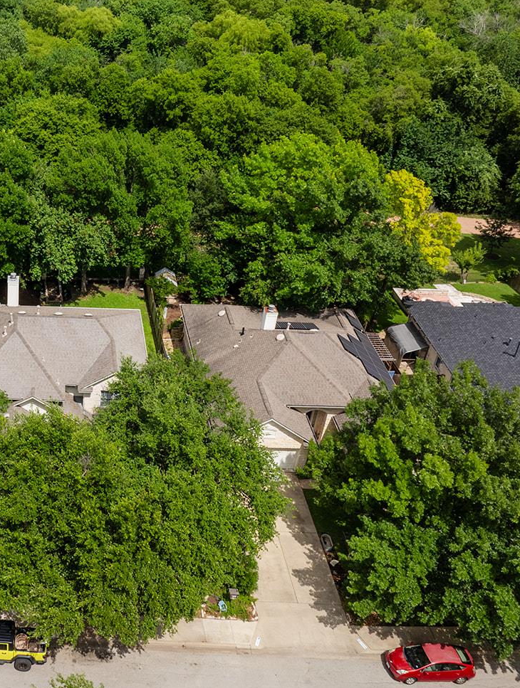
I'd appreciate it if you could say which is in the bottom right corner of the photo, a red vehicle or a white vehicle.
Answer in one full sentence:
It is a red vehicle that can be seen in the bottom right corner of the photo.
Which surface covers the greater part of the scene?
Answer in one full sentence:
For the most part, this view shows trees.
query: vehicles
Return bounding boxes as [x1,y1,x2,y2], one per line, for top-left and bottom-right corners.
[0,619,50,671]
[385,638,484,686]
